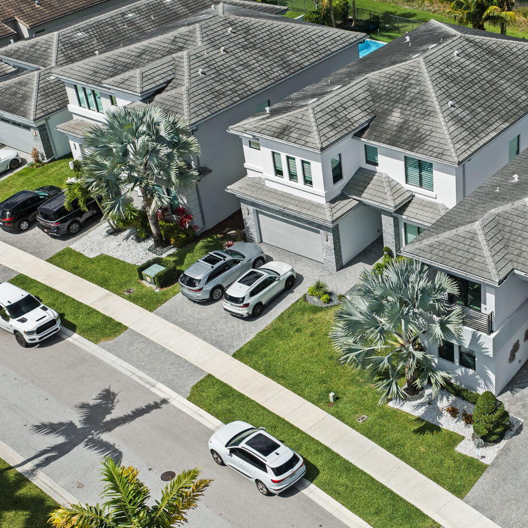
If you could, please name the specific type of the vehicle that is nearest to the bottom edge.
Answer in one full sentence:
The vehicle that is nearest to the bottom edge can be classified as an automobile.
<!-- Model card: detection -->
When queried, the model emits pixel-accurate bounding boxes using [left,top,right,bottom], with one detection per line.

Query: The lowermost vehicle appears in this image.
[212,427,308,499]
